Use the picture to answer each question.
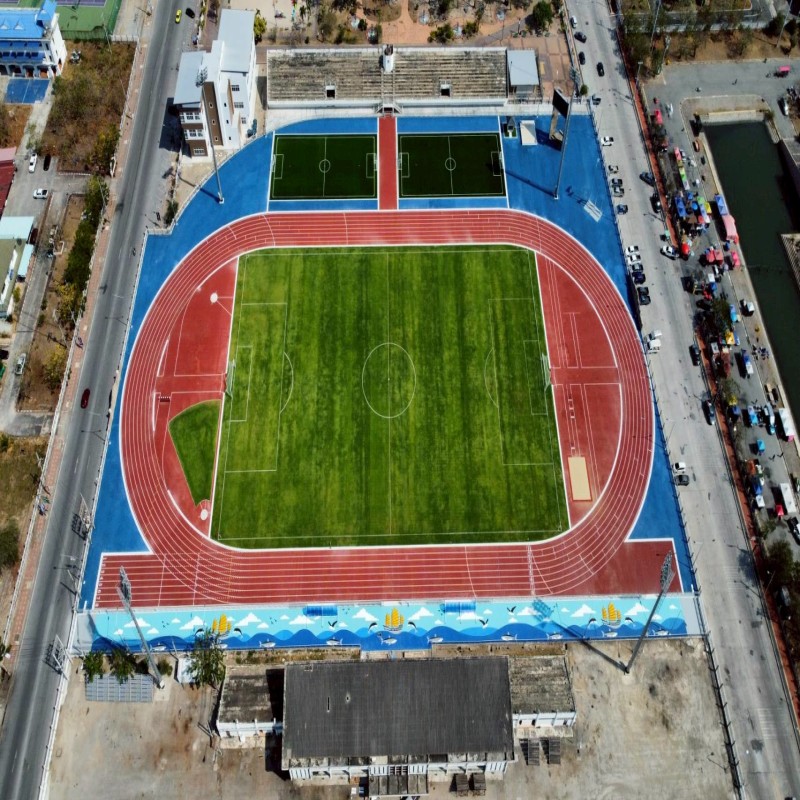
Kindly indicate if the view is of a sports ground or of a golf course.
sports ground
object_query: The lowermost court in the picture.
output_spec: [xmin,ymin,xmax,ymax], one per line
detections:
[5,78,51,103]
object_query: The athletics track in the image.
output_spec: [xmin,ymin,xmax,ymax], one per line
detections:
[92,118,684,607]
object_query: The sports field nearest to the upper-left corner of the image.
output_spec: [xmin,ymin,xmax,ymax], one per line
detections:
[270,134,378,198]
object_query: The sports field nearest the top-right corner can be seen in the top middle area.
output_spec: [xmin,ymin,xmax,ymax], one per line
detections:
[398,133,506,198]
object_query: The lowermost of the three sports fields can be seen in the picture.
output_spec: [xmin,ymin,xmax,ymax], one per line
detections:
[207,242,571,549]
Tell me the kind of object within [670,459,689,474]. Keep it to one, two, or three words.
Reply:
car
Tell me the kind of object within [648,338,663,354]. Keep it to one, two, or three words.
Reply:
car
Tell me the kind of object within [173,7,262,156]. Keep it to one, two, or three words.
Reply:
building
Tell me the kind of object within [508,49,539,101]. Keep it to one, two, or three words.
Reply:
building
